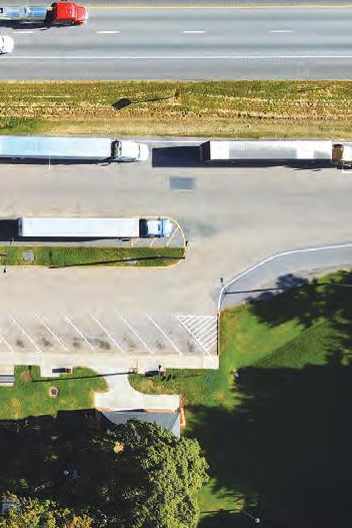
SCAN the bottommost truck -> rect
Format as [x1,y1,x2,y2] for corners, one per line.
[17,217,173,239]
